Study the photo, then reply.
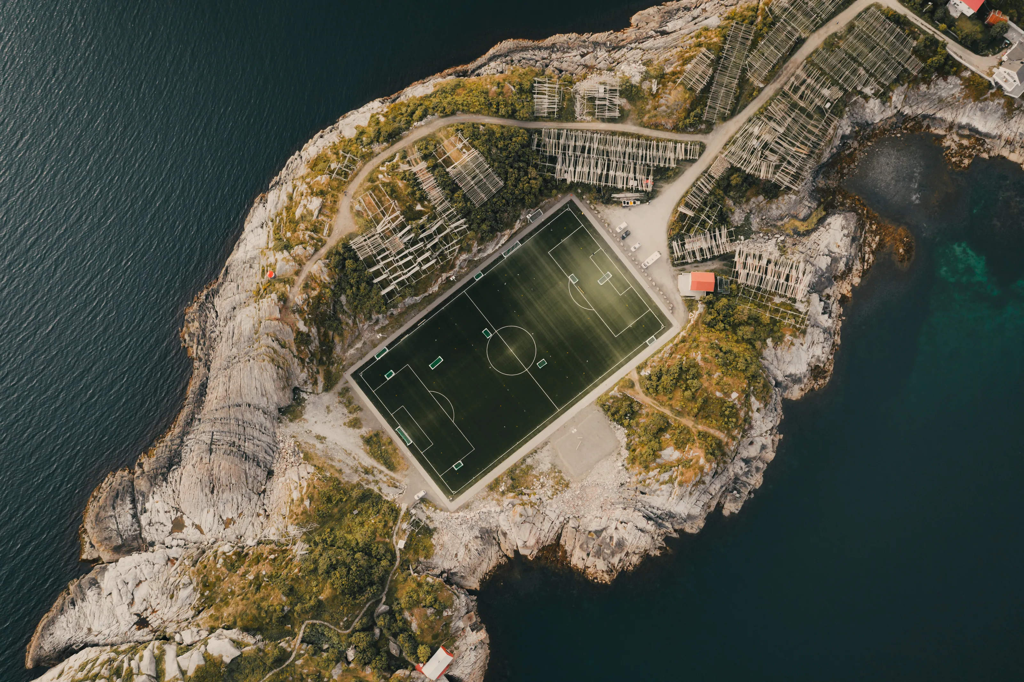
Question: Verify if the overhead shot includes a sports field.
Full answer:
Yes, this view includes a sports field.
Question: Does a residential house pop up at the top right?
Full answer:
Yes, a residential house can be seen at the top right.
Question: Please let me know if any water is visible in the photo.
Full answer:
Yes, the picture does contain water.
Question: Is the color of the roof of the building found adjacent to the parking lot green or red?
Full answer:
In this view, the roof of the building found adjacent to the parking lot is red.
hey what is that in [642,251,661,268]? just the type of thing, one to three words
vehicle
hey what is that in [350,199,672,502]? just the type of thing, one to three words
sports field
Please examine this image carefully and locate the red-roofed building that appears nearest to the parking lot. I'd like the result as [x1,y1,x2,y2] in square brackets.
[689,272,715,292]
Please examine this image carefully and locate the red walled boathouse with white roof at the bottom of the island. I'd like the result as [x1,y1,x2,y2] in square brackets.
[422,645,453,680]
